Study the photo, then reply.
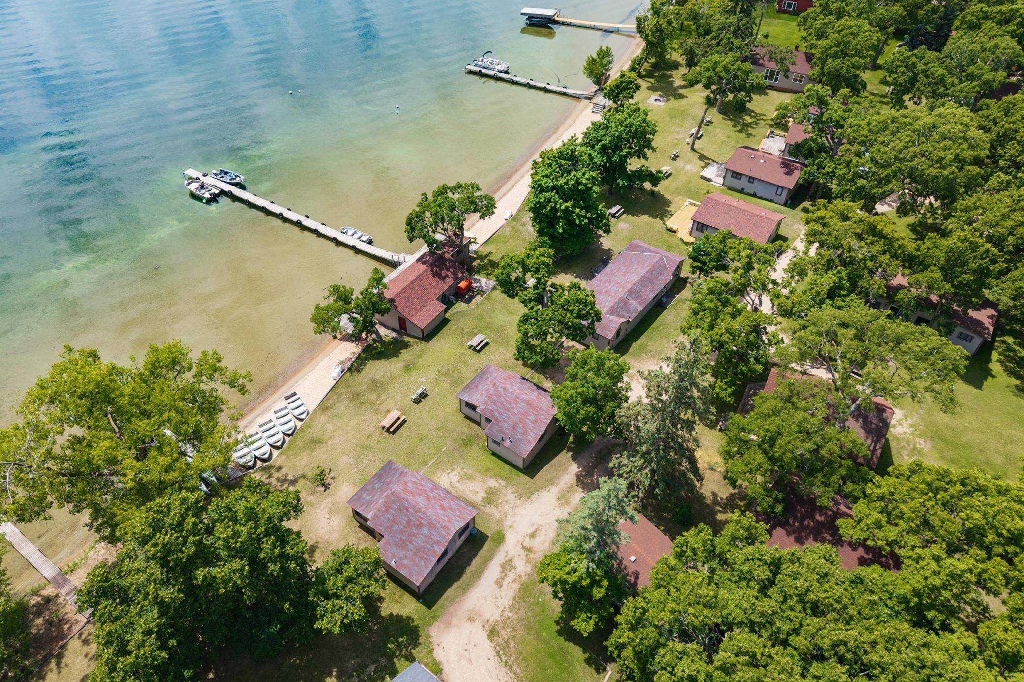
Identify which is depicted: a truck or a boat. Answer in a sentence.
The image shows a boat.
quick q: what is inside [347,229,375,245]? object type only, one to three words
boat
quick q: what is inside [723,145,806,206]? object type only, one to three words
house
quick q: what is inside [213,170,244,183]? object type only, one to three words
boat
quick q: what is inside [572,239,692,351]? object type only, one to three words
building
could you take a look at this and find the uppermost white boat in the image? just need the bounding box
[471,52,510,74]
